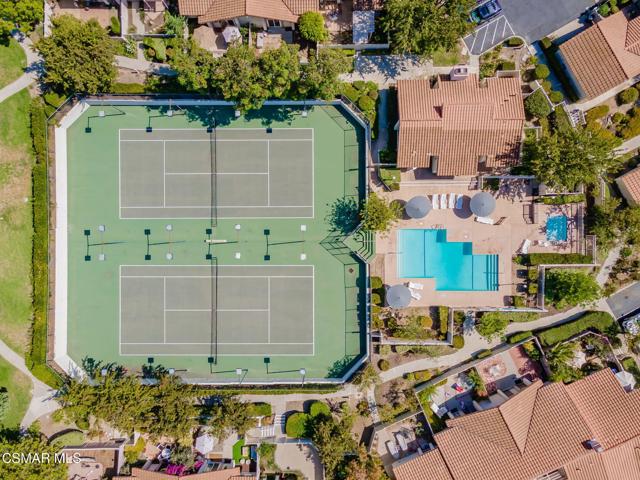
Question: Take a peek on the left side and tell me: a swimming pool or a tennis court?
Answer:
tennis court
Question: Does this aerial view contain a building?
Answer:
Yes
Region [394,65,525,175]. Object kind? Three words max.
building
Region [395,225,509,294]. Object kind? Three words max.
swimming pool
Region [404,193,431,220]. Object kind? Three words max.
umbrella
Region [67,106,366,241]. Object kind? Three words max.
tennis court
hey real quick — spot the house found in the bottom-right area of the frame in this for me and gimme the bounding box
[392,366,640,480]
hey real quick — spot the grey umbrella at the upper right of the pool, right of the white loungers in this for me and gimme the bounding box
[469,191,496,218]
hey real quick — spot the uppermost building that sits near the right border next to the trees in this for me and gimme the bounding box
[555,11,640,102]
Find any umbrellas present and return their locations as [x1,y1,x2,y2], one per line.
[386,283,411,309]
[193,28,218,51]
[144,440,159,456]
[222,24,239,45]
[469,191,496,218]
[196,432,216,452]
[404,193,431,220]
